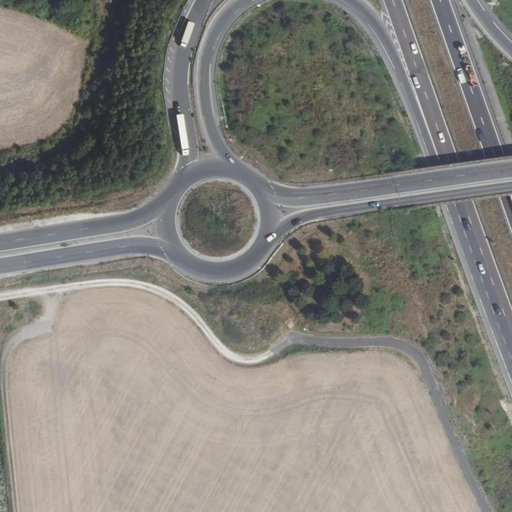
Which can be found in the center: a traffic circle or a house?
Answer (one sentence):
Visible in the center is a traffic circle.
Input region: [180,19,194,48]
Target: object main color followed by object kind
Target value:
white vehicle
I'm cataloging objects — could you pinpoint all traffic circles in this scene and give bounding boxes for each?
[127,131,300,285]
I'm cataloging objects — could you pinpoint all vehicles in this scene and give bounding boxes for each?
[180,19,194,48]
[458,48,478,87]
[477,130,484,141]
[174,102,179,112]
[412,75,420,88]
[462,218,470,230]
[226,152,236,163]
[438,131,445,143]
[410,41,417,52]
[291,218,302,226]
[370,202,380,208]
[178,113,189,156]
[266,233,276,242]
[457,68,467,84]
[478,262,486,274]
[494,302,502,315]
[468,66,476,84]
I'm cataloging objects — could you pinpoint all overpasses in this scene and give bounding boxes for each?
[392,156,512,212]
